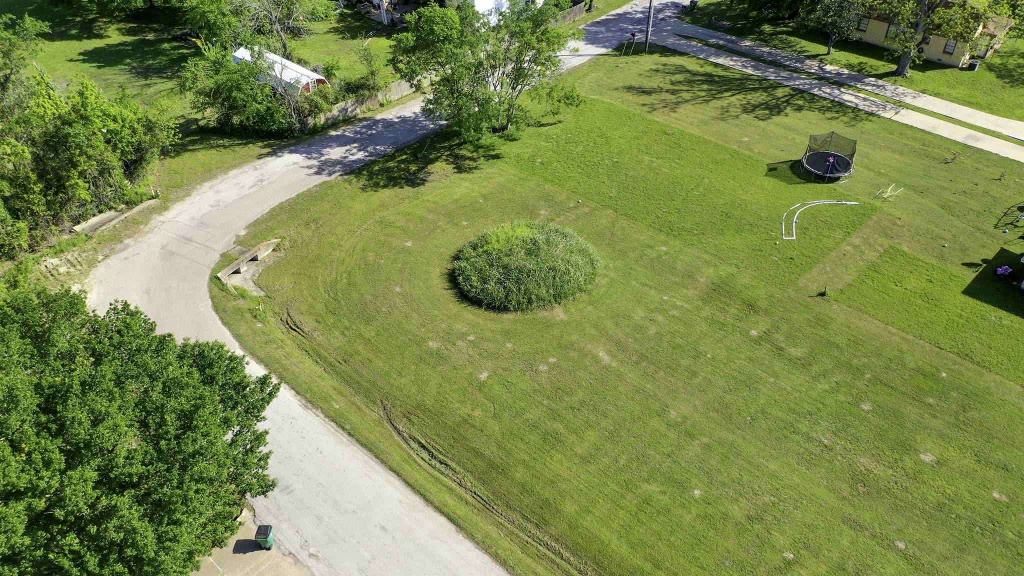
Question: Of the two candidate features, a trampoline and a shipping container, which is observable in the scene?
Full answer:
Of the two, only a trampoline appears.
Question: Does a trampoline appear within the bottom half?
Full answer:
No, I see no trampoline within the bottom half.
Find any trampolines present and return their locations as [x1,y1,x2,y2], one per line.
[798,130,867,187]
